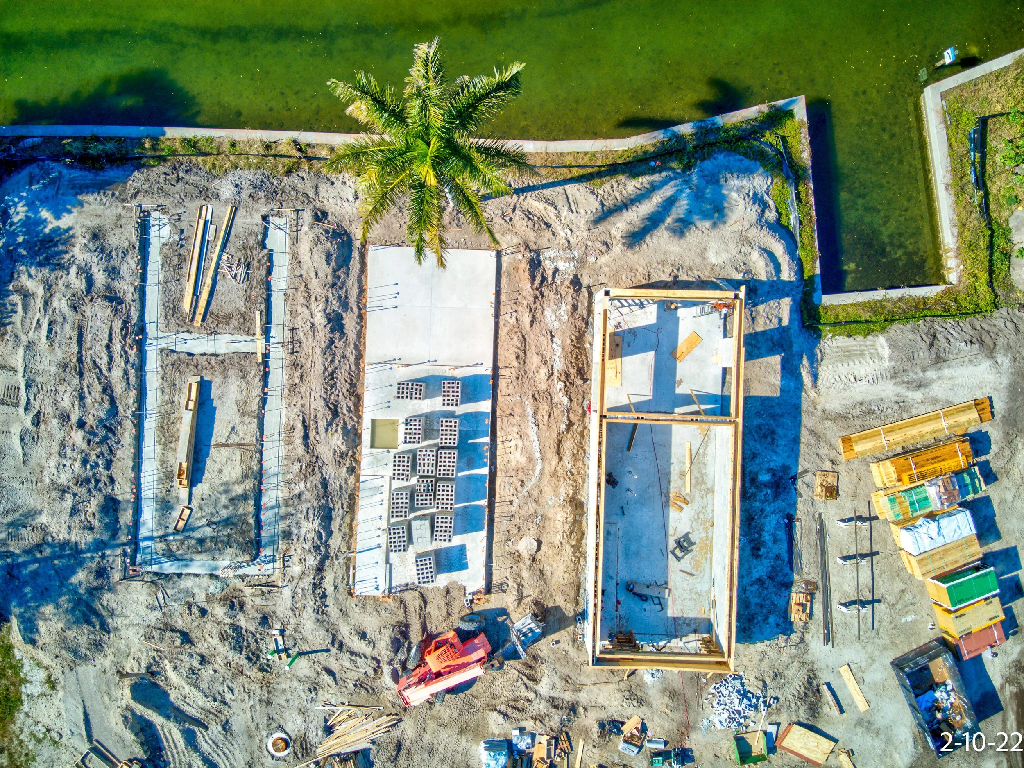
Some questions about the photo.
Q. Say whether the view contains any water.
Yes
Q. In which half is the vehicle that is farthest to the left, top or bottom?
bottom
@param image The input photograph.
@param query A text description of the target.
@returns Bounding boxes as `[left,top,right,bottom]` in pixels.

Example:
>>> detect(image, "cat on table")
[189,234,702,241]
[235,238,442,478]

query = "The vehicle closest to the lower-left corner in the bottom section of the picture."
[397,609,545,712]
